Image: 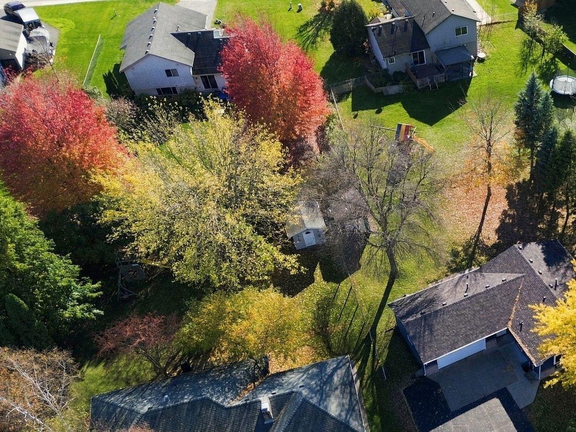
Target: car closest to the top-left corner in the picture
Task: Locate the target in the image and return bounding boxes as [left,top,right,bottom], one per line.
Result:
[2,3,27,22]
